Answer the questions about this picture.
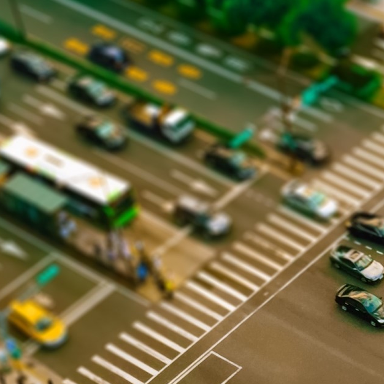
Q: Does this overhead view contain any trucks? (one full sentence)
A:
Yes, a truck is visible in the scene.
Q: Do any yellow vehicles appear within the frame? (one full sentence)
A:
Yes, you can see a yellow vehicle in this photo.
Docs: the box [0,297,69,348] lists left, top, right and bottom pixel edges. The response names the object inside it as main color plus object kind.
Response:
yellow car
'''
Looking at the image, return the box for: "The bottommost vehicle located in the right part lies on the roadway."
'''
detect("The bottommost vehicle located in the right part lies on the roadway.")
[329,285,384,332]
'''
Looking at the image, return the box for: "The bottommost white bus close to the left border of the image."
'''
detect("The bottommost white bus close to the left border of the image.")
[0,132,143,233]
